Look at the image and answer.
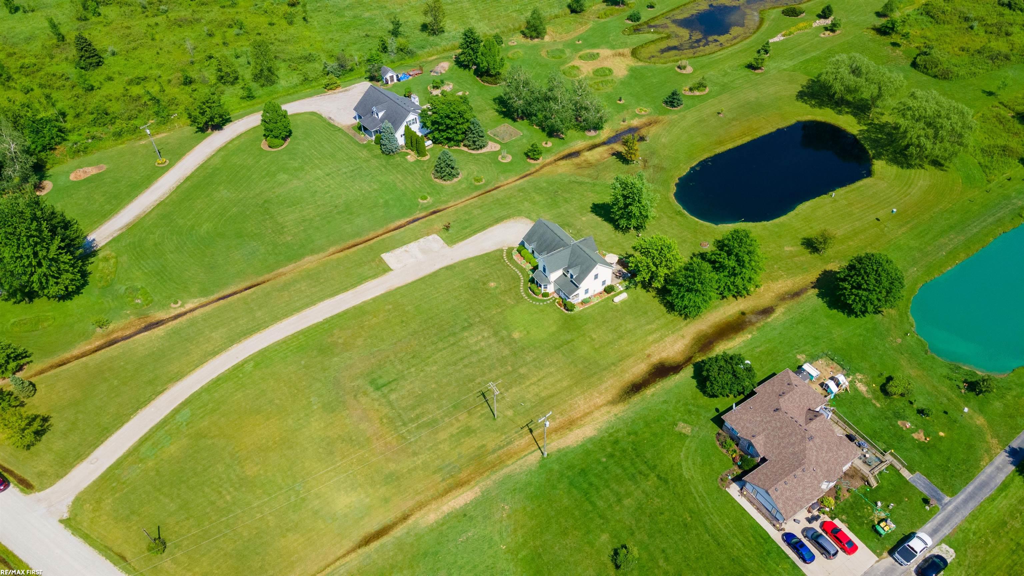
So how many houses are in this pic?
three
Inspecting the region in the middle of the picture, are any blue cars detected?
No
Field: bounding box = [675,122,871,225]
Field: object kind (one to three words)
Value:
pond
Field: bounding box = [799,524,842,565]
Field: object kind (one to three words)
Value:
car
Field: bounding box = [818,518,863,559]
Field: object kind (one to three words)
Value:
car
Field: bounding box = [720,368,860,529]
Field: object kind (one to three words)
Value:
house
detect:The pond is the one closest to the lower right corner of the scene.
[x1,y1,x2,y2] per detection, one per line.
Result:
[909,225,1024,375]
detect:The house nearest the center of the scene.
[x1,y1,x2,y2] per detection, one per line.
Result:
[522,218,615,303]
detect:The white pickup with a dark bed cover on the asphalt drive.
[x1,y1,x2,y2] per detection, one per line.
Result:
[890,532,935,572]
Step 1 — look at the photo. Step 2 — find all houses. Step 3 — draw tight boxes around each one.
[720,368,860,529]
[353,85,428,146]
[522,218,615,303]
